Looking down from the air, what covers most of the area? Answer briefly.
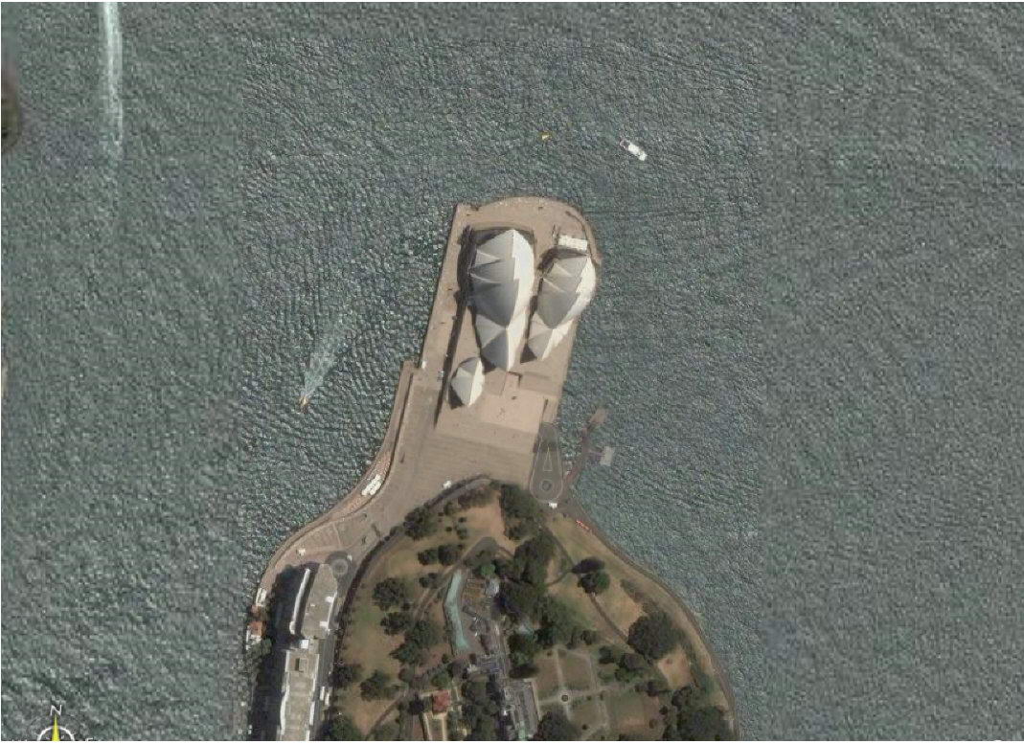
water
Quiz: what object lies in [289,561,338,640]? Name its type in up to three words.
building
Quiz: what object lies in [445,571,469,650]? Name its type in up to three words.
building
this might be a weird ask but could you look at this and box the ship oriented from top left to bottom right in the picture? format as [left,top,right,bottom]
[619,136,647,160]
